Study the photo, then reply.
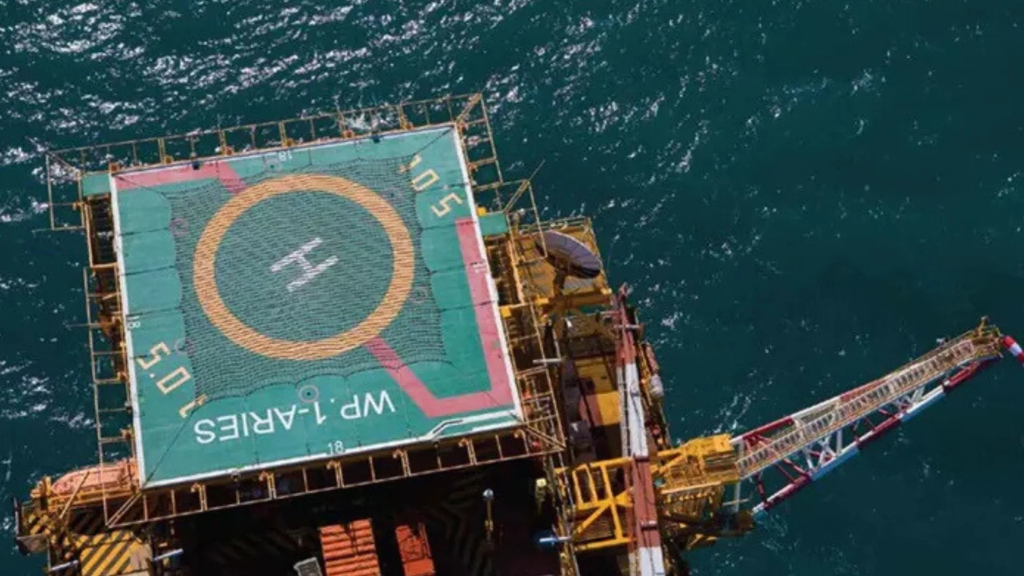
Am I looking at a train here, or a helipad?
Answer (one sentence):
The one in the frame is a helipad.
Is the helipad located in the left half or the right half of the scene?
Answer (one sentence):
The helipad appears in the left half of the scene.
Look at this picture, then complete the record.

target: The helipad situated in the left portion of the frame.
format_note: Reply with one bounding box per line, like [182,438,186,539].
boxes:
[23,83,565,527]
